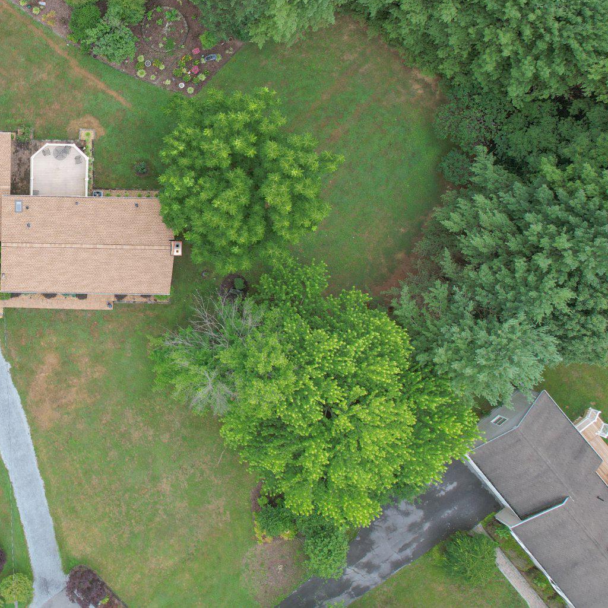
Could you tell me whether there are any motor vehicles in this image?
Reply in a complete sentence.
No, the scene contains no motor vehicle.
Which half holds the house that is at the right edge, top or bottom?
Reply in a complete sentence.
The house that is at the right edge is in the bottom half of the image.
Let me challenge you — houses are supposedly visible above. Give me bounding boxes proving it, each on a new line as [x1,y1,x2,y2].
[0,131,184,296]
[462,390,608,608]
